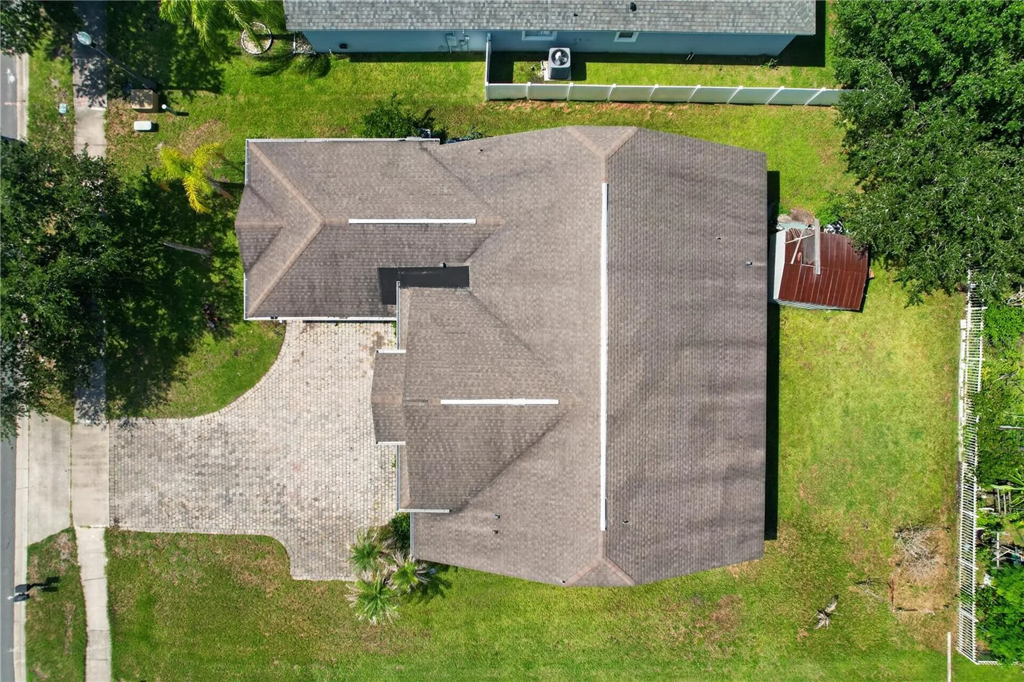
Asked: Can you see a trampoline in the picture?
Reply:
No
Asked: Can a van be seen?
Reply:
No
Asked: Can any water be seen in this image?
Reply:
No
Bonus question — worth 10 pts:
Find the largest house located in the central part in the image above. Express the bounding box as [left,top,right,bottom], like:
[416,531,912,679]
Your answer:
[231,123,767,590]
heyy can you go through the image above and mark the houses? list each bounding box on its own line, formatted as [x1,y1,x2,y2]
[283,0,817,56]
[231,123,767,590]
